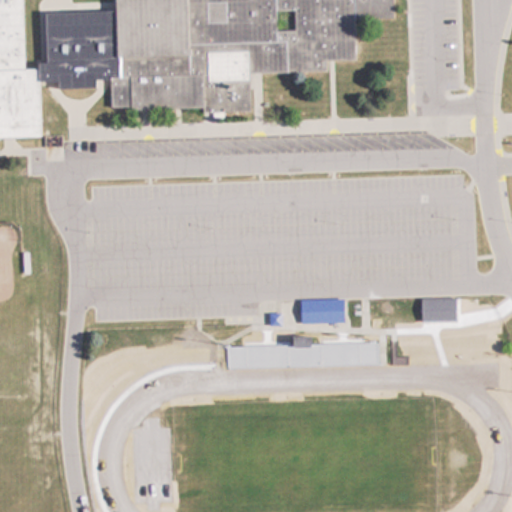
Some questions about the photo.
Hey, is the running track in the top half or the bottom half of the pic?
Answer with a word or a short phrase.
bottom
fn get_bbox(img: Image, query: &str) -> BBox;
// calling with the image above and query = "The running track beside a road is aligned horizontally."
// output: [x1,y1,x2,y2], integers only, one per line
[98,362,512,512]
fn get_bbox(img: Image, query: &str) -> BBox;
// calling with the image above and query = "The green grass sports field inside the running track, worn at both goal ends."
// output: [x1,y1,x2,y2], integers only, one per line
[159,395,483,512]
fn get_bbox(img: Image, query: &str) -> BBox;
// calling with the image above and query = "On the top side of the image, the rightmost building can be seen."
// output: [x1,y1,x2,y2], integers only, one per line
[110,0,394,119]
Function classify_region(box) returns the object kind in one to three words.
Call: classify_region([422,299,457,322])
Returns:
building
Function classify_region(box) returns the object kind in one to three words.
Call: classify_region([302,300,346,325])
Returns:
building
